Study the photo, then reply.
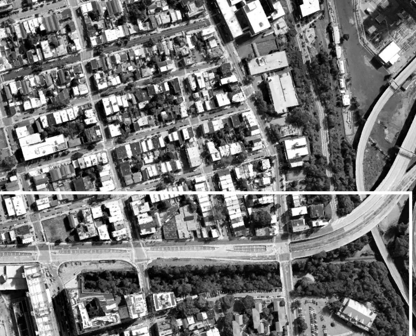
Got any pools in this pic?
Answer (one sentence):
No, there's no pool here.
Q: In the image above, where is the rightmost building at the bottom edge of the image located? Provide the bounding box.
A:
[333,297,377,331]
